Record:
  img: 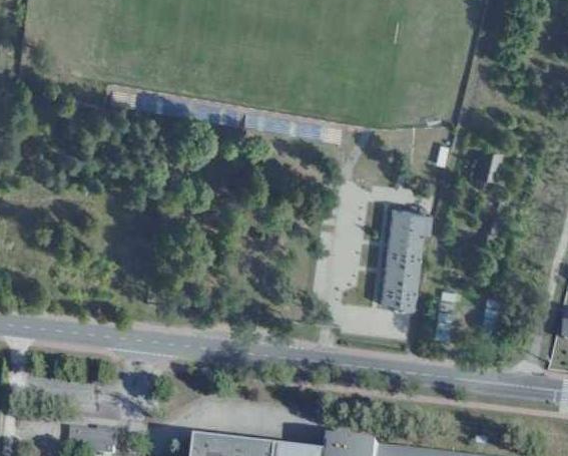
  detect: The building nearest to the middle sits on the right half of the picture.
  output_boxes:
[380,210,434,316]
